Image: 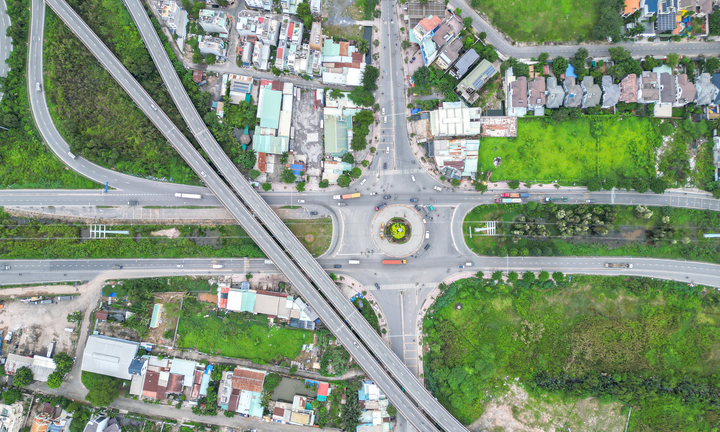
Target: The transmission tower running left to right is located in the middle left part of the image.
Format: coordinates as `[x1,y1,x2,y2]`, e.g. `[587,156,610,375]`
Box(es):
[90,224,131,238]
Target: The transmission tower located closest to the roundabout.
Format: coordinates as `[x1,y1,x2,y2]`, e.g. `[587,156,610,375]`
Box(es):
[473,221,496,235]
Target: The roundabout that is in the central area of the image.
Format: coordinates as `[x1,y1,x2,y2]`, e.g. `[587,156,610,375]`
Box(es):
[372,205,425,257]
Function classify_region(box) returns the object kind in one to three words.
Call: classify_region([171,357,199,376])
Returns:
shed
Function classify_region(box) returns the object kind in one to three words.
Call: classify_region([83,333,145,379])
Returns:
building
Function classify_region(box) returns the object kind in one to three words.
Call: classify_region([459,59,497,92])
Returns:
house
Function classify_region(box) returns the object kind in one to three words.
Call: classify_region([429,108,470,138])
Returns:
building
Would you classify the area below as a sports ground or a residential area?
residential area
